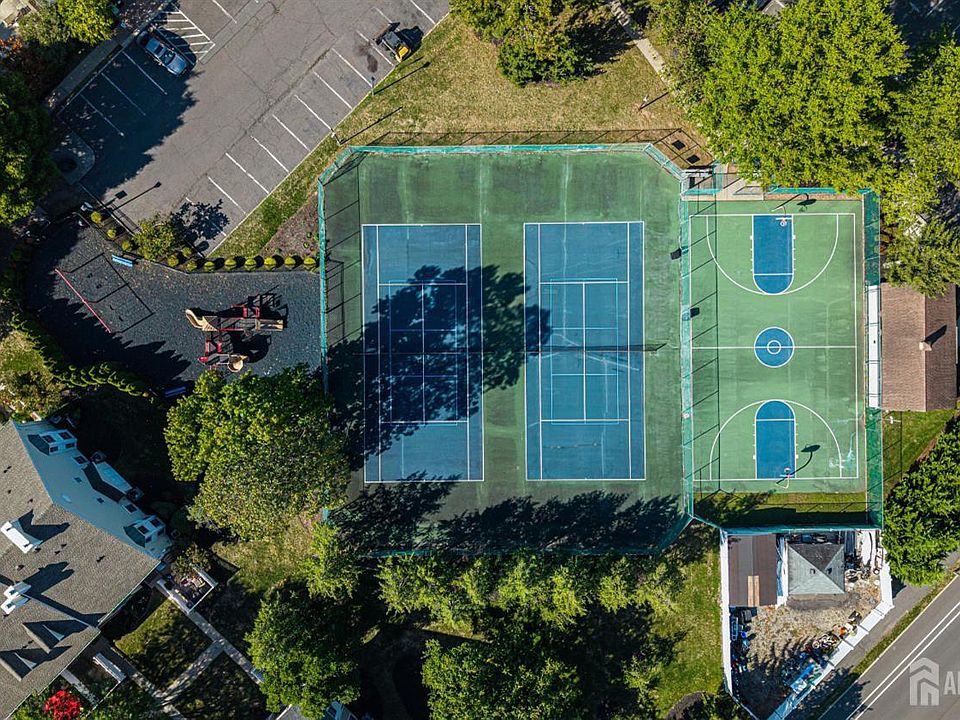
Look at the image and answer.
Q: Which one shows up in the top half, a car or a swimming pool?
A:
car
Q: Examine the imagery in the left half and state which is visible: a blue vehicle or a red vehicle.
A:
blue vehicle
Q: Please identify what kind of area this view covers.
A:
sports ground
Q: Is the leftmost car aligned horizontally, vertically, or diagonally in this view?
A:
diagonally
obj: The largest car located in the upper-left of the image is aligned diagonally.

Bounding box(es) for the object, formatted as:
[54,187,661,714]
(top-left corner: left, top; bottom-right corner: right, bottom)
[133,24,186,71]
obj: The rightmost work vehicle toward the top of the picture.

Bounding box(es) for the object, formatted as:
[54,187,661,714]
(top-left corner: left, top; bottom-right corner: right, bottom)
[370,19,411,57]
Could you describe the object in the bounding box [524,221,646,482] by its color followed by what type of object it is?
blue tennis court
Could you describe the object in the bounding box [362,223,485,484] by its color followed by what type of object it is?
blue tennis court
